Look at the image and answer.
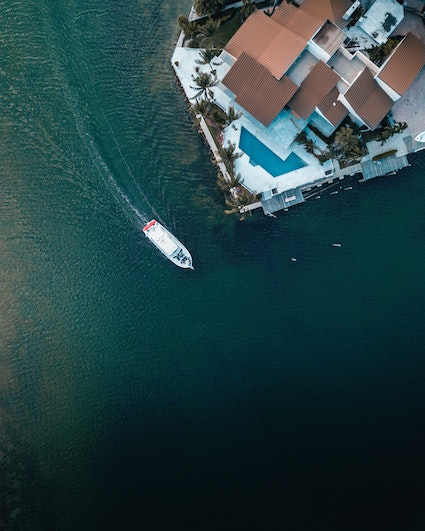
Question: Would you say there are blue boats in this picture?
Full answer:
No, I find no blue boat anywhere in the image.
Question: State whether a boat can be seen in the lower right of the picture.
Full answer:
No, looking in the lower right of the picture, there is no boat.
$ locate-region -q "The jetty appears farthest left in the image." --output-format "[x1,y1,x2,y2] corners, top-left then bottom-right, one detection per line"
[262,188,306,215]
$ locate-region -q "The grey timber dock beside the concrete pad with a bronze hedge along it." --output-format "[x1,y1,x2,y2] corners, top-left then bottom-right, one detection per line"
[360,151,410,181]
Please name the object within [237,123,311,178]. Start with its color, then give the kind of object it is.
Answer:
blue swimming pool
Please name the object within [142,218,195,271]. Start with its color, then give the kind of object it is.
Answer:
white boat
